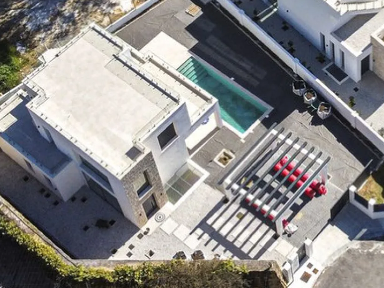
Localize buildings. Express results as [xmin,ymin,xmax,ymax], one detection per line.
[268,0,384,80]
[0,20,221,227]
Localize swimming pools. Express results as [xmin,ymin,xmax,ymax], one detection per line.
[173,52,278,145]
